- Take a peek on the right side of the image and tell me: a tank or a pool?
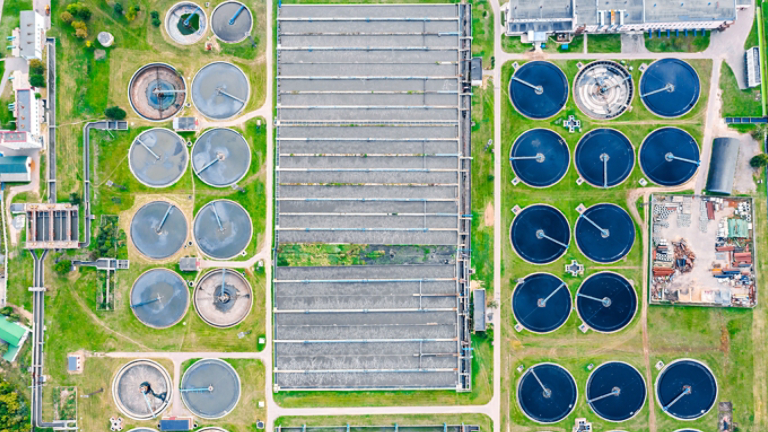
tank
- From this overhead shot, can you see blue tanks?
Yes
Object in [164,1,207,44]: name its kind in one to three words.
storage tank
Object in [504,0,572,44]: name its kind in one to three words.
building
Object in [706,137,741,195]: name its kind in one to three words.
hangar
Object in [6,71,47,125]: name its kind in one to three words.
building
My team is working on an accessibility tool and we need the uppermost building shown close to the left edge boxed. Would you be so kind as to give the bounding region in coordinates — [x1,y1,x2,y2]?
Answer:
[4,10,46,61]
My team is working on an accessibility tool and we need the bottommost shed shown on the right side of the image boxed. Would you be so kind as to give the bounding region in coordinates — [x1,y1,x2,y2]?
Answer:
[472,288,485,331]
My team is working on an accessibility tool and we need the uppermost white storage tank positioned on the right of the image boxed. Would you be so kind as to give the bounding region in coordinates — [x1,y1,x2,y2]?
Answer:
[573,59,634,121]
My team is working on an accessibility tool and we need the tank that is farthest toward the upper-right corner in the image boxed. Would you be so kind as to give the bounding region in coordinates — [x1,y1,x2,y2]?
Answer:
[639,57,700,118]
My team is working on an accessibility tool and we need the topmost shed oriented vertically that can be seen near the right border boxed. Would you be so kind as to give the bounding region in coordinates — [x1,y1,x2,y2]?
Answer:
[746,46,761,88]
